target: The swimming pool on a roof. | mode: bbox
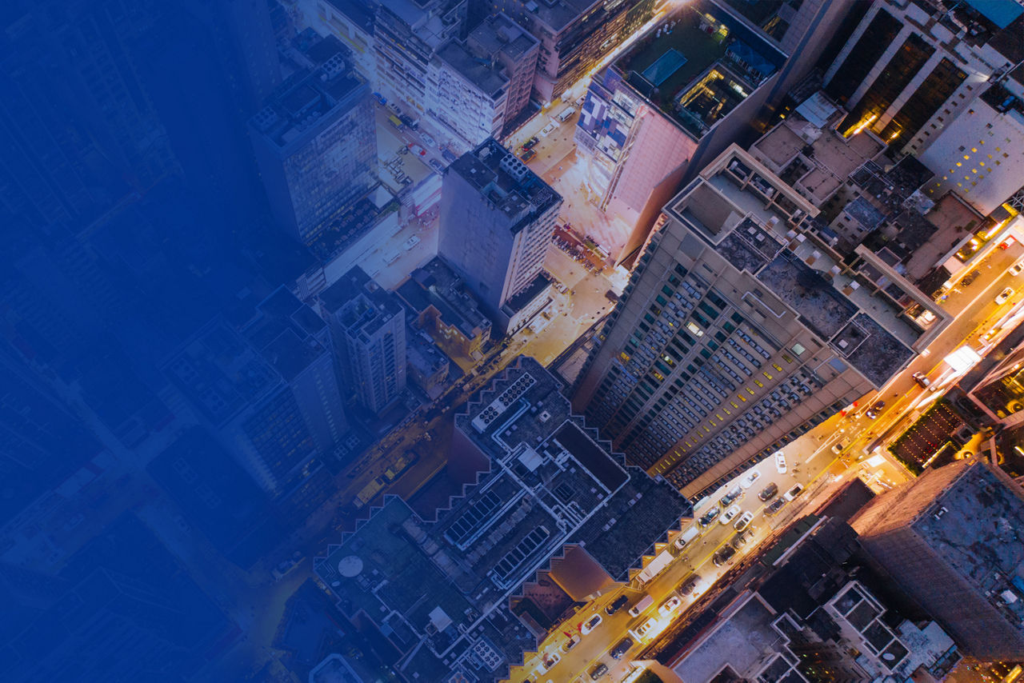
[644,50,685,85]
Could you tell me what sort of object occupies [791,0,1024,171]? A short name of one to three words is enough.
building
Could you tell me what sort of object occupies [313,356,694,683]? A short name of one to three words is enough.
building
